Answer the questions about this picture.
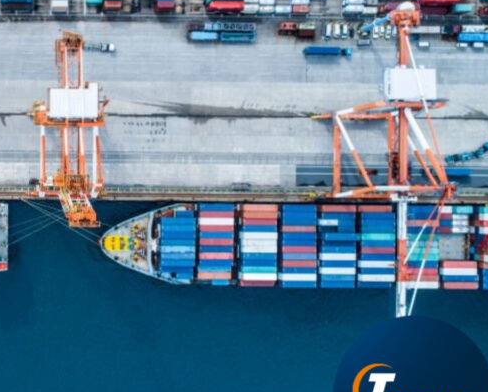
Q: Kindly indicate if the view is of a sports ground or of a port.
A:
port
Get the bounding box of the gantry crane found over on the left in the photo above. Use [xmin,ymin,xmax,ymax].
[25,29,113,226]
